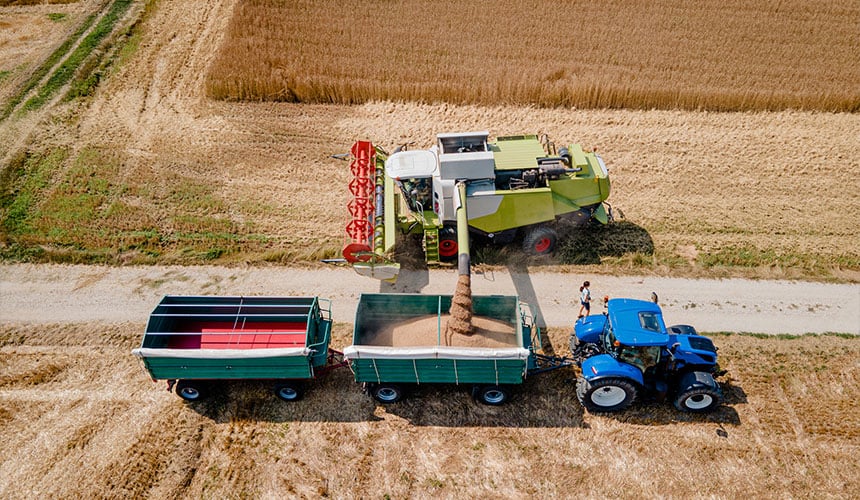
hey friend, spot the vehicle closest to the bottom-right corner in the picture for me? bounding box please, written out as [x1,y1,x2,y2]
[560,294,723,415]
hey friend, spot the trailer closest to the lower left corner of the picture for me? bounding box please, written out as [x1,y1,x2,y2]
[134,294,350,403]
